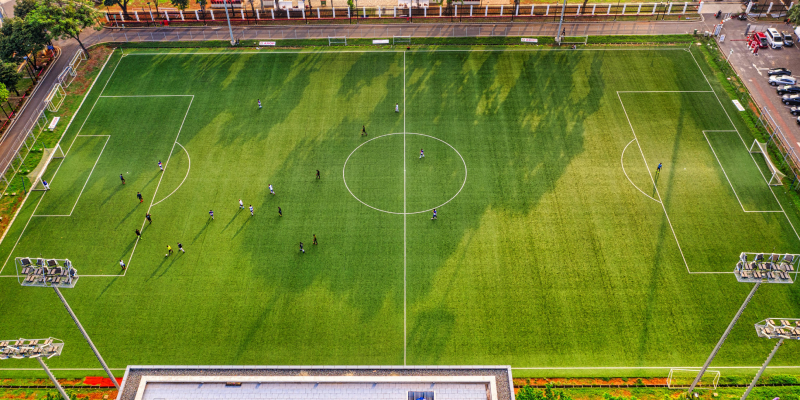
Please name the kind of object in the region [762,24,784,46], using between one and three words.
vehicle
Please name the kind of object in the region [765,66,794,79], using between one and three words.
vehicle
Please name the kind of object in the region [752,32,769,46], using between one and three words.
car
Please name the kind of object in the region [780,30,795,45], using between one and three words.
car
